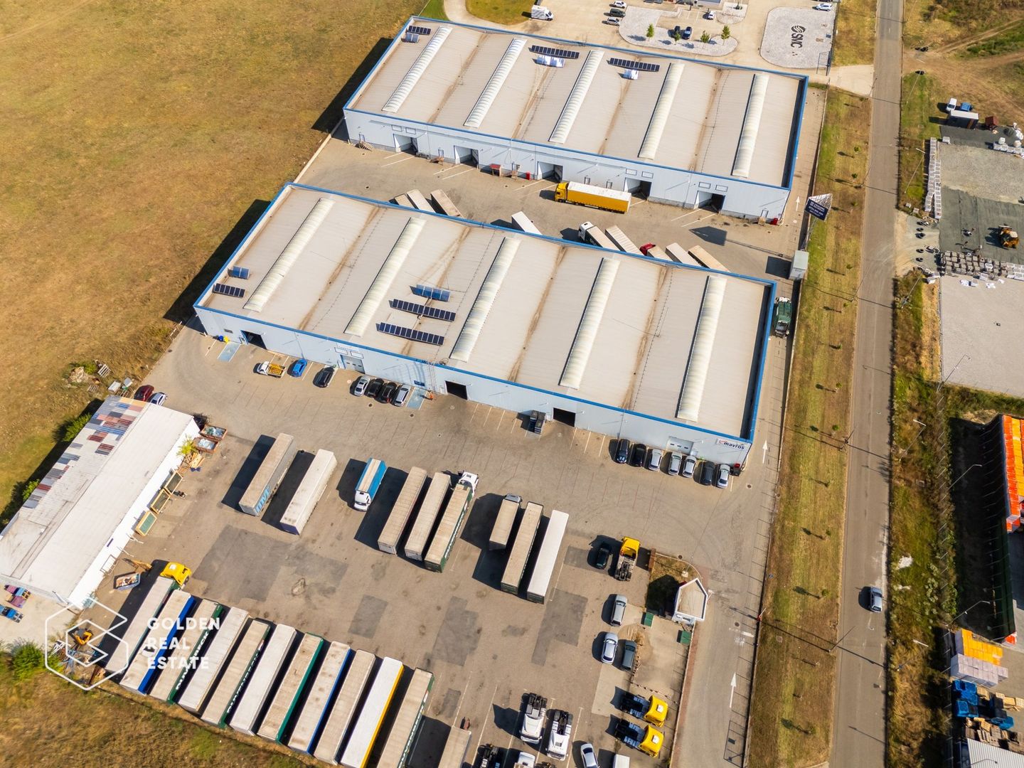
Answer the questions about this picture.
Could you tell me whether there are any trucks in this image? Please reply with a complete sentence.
Yes, a truck appears in the view.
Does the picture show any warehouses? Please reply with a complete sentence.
Yes, a warehouse is visible in the scene.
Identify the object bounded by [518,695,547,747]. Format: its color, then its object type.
white truck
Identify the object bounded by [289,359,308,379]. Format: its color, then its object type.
blue car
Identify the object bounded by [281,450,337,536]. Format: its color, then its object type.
white trailer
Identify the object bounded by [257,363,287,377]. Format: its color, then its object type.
white vehicle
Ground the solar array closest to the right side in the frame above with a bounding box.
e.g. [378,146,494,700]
[608,58,659,74]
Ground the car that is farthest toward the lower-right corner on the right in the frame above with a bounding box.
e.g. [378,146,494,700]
[868,586,885,615]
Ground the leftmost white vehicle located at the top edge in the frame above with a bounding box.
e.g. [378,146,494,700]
[530,2,553,19]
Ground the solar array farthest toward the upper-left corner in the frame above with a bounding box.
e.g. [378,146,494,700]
[213,284,245,300]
